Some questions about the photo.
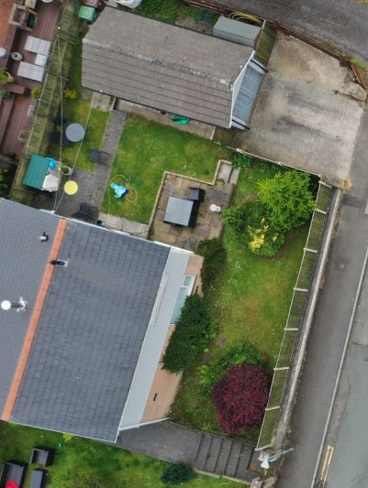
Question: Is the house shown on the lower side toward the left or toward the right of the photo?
left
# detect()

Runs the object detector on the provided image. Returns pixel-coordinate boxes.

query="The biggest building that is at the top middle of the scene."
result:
[80,6,269,136]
